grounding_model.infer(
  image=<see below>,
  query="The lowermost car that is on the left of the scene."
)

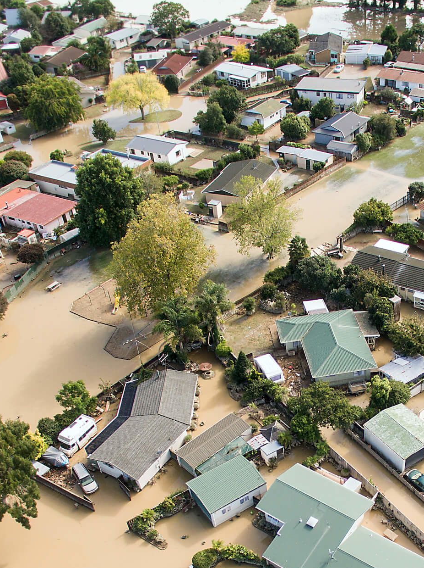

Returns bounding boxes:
[70,461,100,495]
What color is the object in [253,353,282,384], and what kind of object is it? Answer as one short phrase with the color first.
white camper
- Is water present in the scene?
Yes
